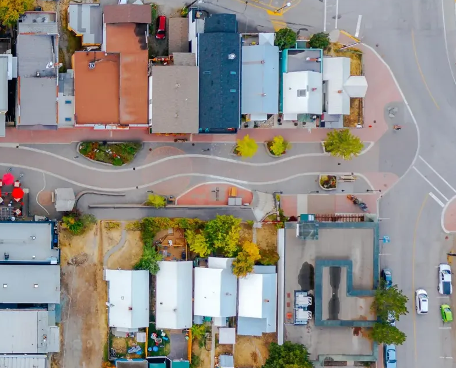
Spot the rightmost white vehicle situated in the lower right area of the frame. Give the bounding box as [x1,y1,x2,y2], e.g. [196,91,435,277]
[436,264,453,295]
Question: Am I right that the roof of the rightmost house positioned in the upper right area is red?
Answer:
No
